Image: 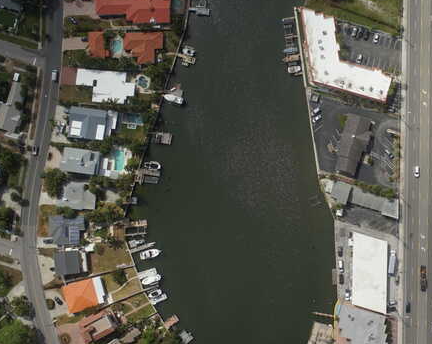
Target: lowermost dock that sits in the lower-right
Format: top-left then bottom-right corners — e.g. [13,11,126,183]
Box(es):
[309,321,334,344]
